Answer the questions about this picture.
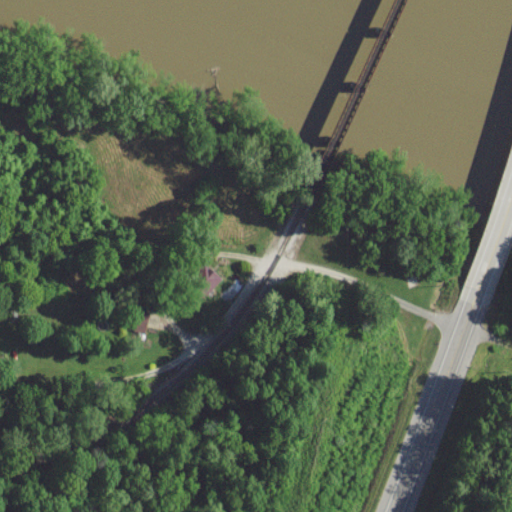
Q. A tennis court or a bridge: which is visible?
bridge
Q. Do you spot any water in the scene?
Yes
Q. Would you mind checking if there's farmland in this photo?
No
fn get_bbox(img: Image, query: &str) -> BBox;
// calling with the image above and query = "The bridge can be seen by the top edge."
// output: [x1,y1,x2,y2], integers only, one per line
[321,0,408,168]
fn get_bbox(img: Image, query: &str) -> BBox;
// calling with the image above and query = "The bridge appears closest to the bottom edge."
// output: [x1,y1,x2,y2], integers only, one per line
[472,146,512,260]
